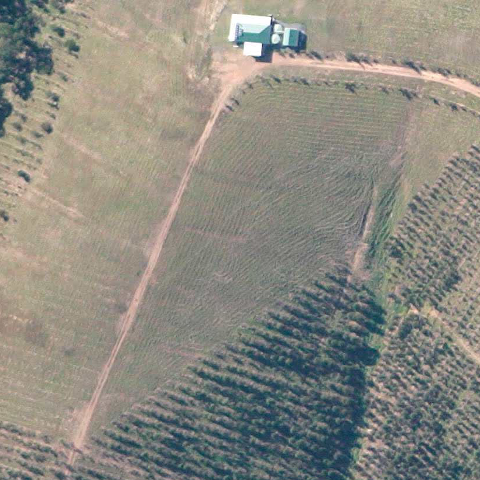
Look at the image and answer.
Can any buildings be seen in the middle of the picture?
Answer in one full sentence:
No, in the middle of the picture there is no building.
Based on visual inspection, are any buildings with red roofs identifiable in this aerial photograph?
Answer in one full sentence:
No, I can't see a single building with a red roof in this photo.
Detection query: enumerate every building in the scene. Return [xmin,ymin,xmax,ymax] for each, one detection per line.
[229,14,272,44]
[283,28,298,46]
